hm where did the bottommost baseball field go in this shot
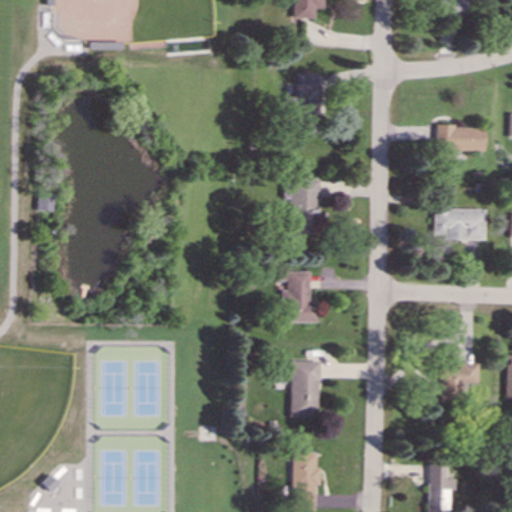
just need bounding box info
[0,347,74,489]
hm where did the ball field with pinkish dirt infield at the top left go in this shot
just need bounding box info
[54,0,214,50]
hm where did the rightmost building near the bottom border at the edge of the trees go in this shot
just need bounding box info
[430,466,458,512]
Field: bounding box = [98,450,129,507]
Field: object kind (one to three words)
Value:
tennis court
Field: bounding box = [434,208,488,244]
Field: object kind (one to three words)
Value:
house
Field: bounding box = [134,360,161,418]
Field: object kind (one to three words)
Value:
tennis court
